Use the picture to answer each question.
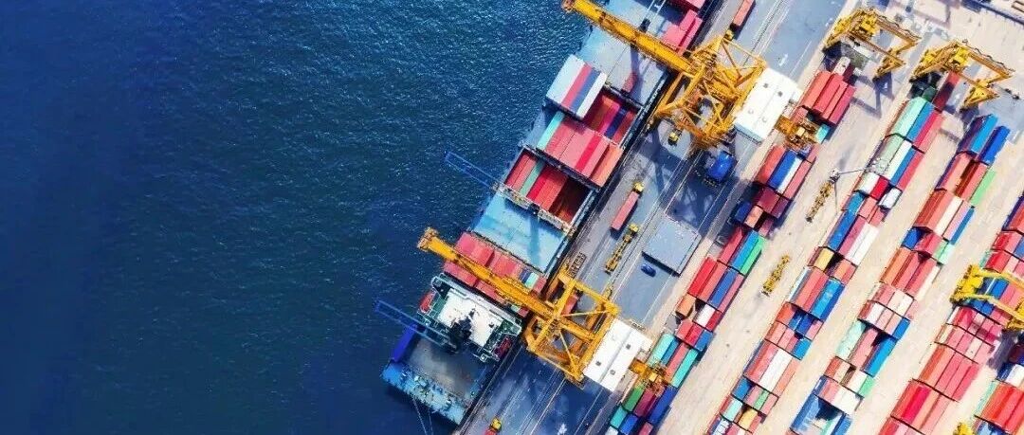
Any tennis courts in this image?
No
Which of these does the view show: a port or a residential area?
port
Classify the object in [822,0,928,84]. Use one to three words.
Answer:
container crane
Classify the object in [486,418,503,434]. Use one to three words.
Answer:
vehicle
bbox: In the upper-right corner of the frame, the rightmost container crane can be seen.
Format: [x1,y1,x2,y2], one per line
[910,33,1023,115]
